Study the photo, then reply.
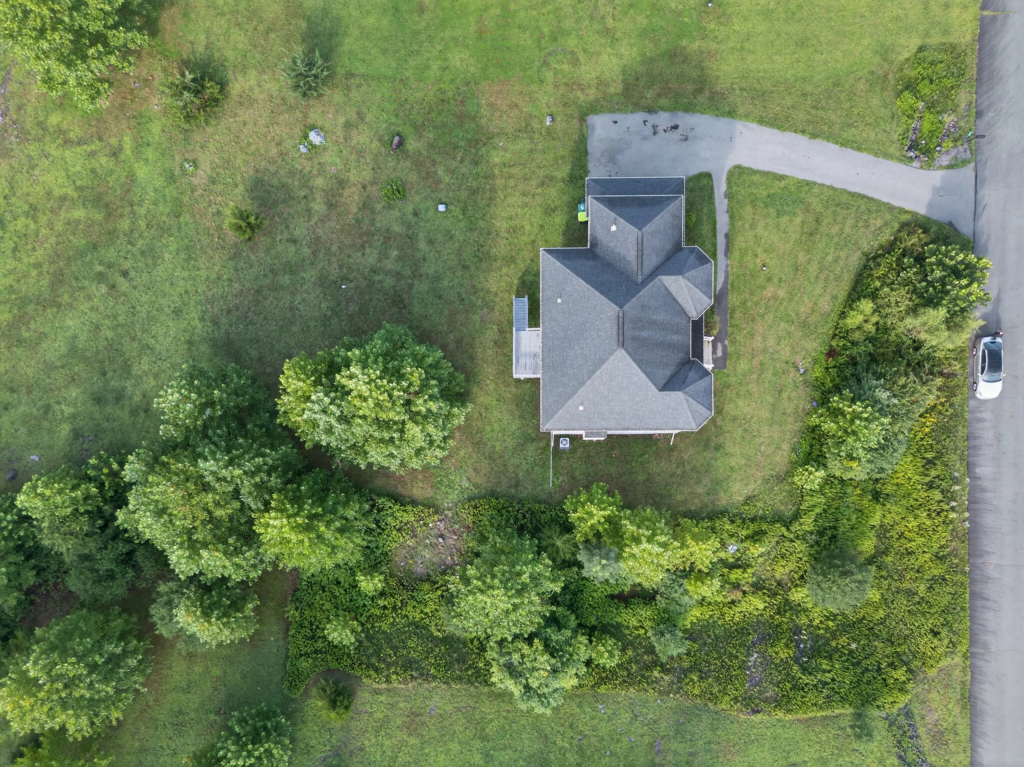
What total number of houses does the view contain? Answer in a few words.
1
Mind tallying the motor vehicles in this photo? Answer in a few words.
one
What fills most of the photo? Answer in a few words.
grass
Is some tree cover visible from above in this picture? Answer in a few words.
Yes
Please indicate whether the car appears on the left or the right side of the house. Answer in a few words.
right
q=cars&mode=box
[971,336,1008,401]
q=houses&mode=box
[513,175,716,446]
